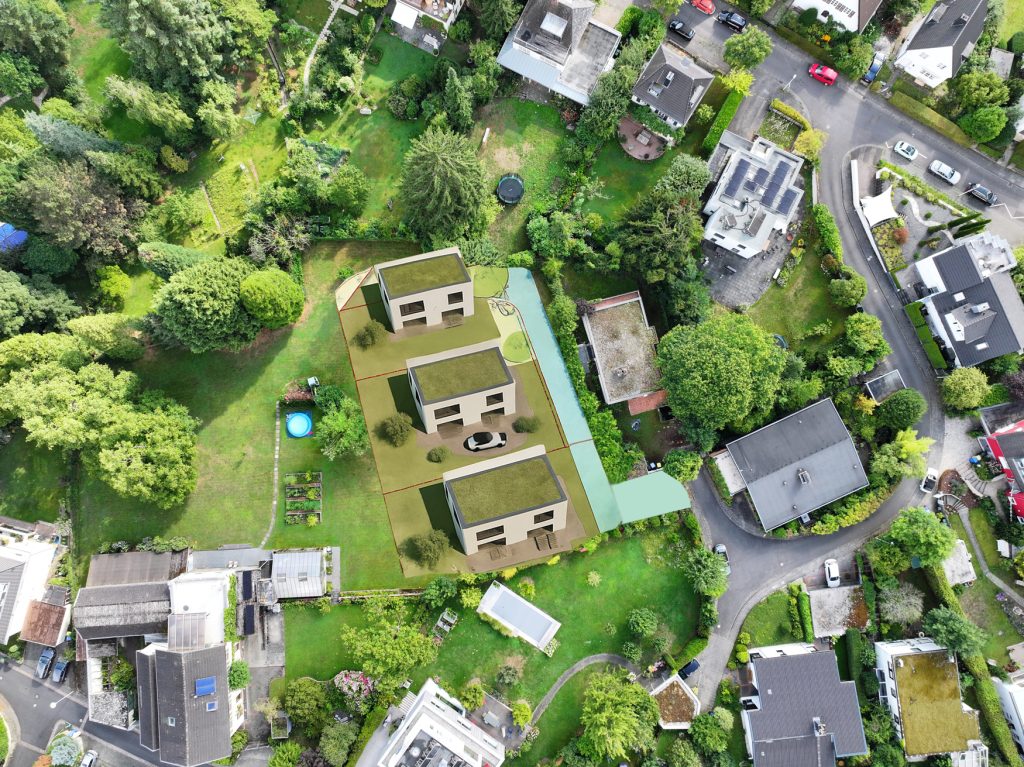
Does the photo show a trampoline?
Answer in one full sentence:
Yes, the image includes a trampoline.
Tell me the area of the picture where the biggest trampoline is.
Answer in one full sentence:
The biggest trampoline appears toward the top of the photo.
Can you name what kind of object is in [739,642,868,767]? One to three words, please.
house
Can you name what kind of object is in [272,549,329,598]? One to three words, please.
building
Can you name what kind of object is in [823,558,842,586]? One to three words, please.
car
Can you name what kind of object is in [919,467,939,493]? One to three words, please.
car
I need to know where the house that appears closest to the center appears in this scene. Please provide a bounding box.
[406,338,515,433]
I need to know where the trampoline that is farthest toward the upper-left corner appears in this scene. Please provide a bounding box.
[498,174,524,200]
